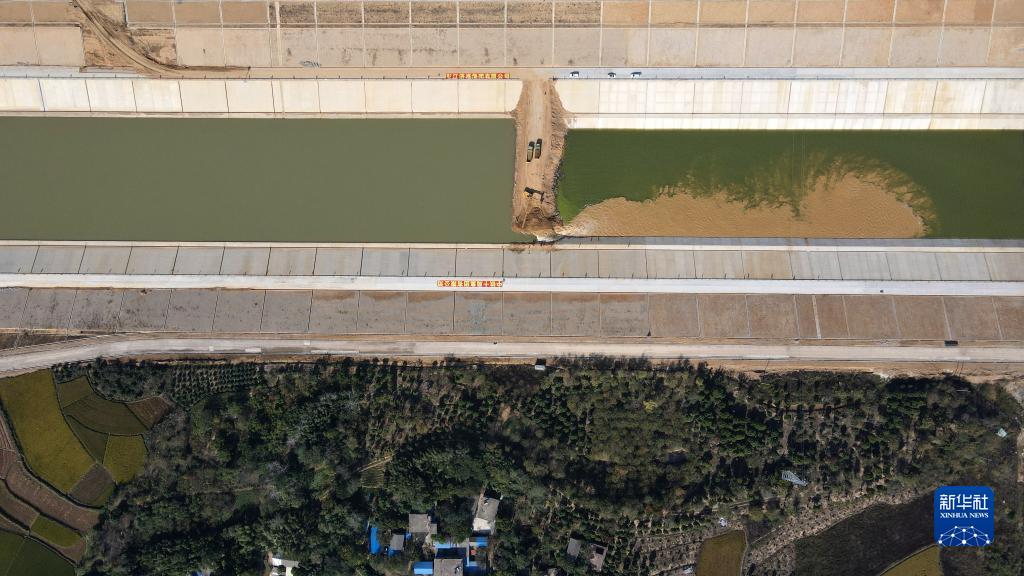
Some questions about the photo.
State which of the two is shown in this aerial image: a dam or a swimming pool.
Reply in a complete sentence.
I can see a dam in this picture.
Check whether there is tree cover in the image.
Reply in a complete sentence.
Yes, there's tree cover in this view.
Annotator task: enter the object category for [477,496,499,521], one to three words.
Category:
house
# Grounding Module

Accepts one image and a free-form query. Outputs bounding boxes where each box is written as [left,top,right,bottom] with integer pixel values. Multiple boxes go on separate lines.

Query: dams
[511,77,569,236]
